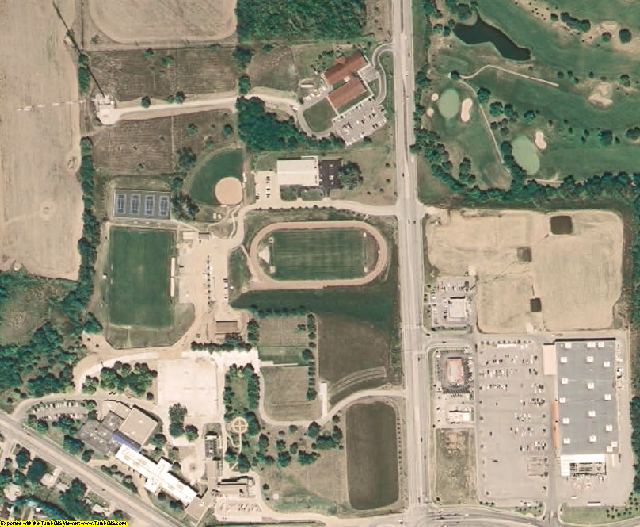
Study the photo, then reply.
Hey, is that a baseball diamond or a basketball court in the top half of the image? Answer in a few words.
baseball diamond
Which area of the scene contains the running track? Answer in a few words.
center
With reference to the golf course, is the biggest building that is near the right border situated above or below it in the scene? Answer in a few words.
below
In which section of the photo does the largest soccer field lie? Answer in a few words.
left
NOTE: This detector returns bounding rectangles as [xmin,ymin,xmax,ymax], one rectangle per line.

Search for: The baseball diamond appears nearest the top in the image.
[184,146,243,208]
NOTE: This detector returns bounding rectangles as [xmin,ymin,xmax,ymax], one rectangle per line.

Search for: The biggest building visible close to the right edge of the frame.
[543,338,618,476]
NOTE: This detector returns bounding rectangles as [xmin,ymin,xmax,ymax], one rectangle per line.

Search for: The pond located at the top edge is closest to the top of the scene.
[452,15,532,63]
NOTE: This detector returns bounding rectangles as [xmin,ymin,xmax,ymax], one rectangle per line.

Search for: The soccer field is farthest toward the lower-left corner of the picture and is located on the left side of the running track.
[103,222,194,349]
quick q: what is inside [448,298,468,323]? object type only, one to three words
building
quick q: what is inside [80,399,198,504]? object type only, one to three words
building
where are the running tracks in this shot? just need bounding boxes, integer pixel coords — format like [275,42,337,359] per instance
[249,221,388,289]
